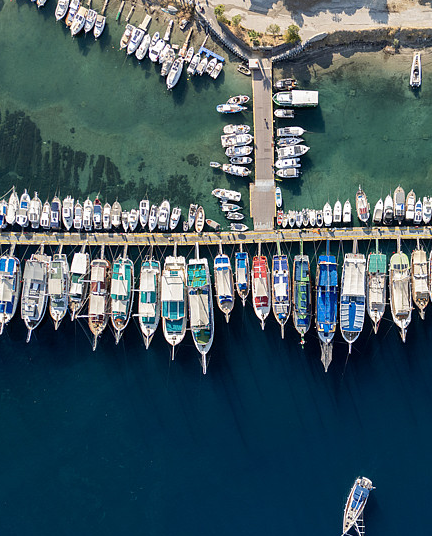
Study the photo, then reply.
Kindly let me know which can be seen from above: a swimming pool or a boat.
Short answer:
boat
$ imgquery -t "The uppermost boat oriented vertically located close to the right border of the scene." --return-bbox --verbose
[409,52,422,91]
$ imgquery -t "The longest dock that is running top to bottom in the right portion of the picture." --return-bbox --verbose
[249,58,277,229]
